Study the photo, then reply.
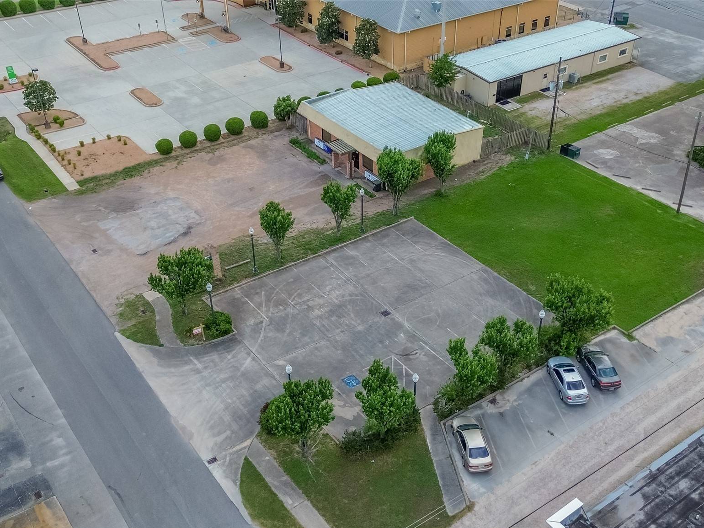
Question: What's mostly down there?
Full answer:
What you mostly see from above here is paved ground.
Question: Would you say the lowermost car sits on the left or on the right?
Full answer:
The lowermost car appears in the right half of the scene.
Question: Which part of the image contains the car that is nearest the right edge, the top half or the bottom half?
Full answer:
It is in the bottom half that the car that is nearest the right edge appears.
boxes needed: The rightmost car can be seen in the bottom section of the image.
[581,346,627,396]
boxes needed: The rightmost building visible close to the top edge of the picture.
[449,18,640,107]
